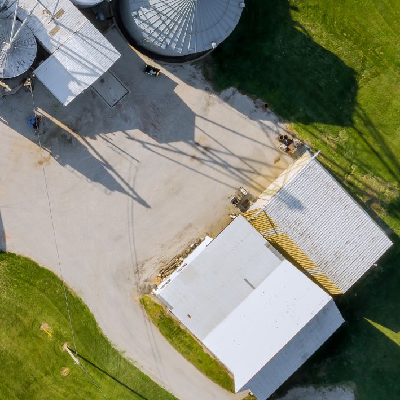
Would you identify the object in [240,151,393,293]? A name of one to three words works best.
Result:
barn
